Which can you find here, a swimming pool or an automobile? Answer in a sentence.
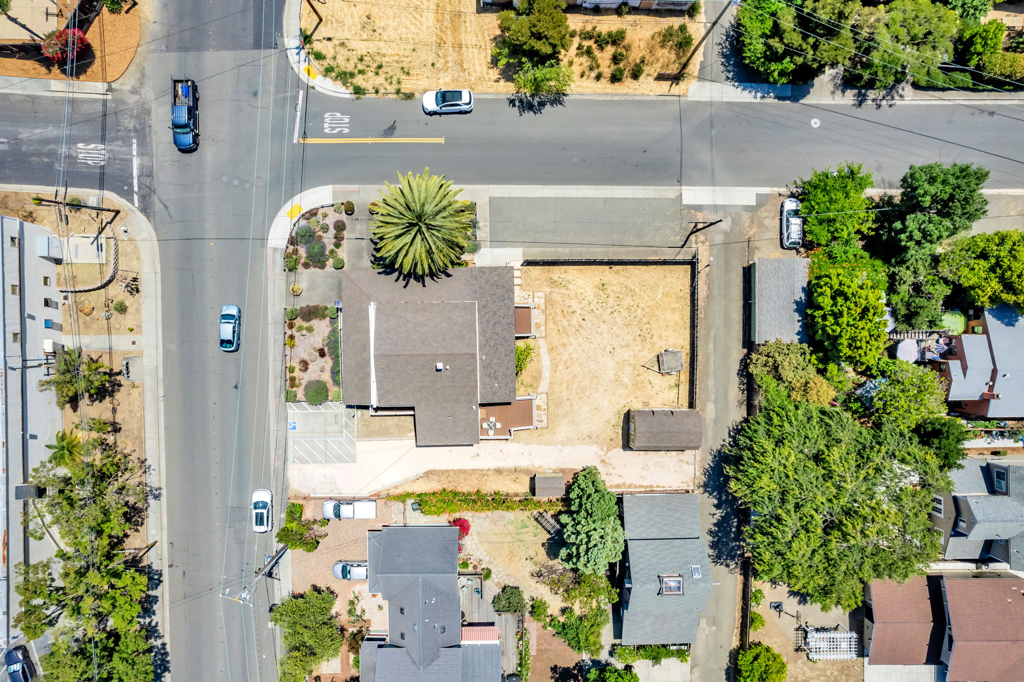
The image shows an automobile.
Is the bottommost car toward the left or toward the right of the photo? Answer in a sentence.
You can find the bottommost car on the left side of the picture.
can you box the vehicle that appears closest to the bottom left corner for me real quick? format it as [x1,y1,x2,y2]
[5,643,41,682]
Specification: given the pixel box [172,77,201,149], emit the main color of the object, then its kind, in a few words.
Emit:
blue truck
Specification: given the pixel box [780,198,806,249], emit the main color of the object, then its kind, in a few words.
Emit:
white car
